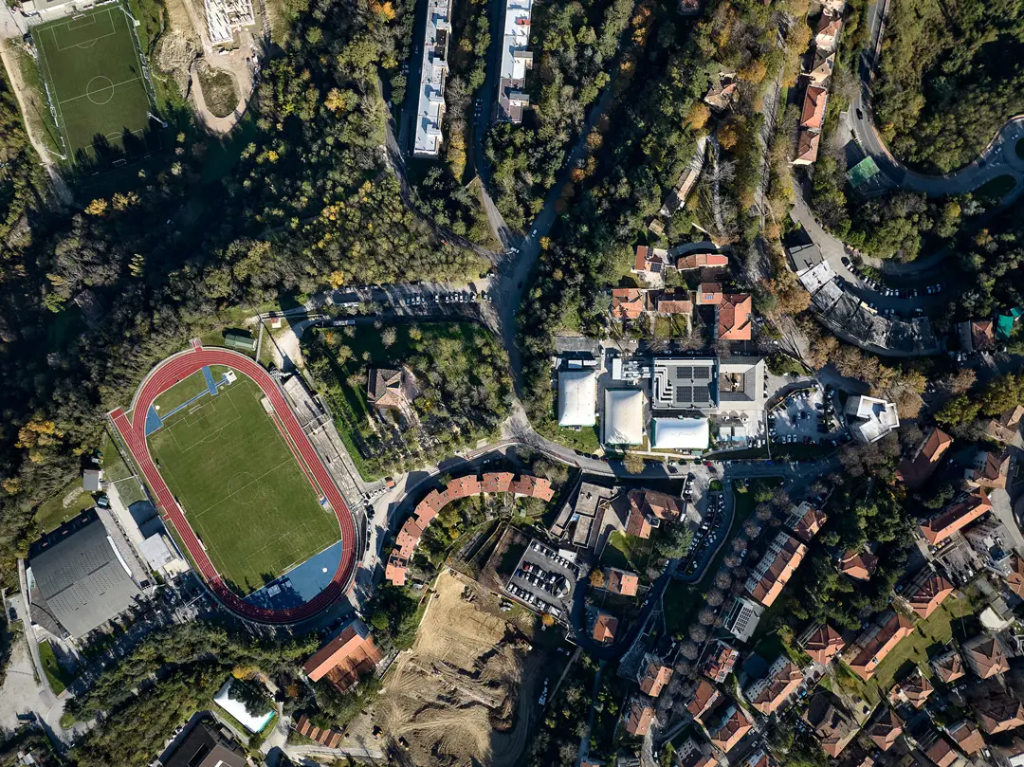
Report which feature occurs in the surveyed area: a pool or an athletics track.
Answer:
athletics track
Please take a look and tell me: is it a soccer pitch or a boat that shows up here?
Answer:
soccer pitch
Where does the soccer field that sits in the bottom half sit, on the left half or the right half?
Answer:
left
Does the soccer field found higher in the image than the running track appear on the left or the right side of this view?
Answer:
left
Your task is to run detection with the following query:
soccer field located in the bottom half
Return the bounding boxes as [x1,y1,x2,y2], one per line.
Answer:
[145,366,341,608]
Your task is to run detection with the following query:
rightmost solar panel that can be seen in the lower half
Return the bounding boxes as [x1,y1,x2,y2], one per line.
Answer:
[727,608,761,638]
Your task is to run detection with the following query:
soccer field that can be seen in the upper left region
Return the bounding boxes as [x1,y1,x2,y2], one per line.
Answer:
[32,0,168,182]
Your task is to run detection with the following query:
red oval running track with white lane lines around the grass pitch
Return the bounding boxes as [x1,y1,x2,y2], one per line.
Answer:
[110,340,359,627]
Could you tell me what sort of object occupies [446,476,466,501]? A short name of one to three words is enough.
house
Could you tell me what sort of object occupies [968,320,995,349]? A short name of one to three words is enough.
house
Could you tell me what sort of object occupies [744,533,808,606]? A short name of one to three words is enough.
building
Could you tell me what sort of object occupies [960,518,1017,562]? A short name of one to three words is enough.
building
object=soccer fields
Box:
[32,0,168,182]
[145,366,341,608]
